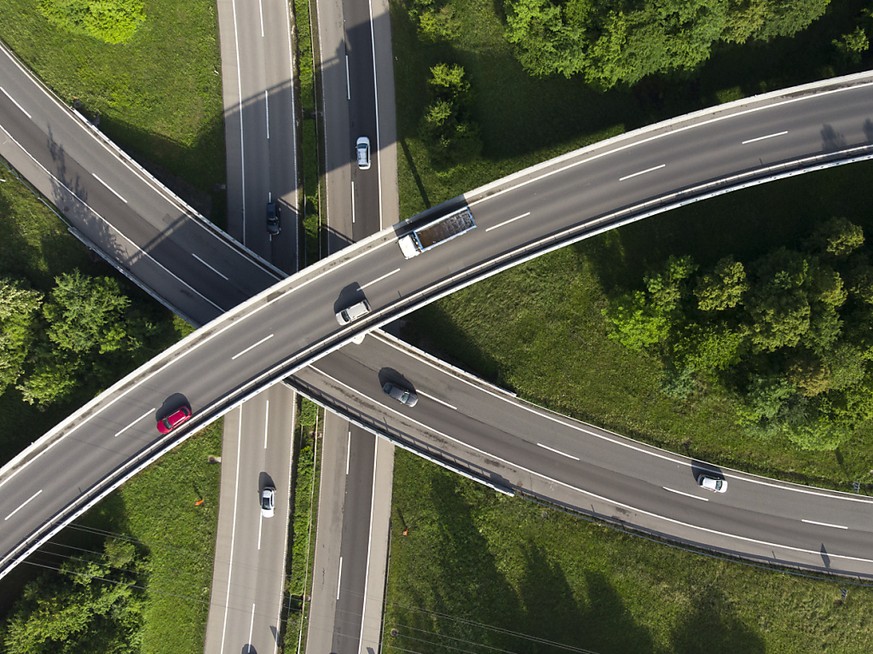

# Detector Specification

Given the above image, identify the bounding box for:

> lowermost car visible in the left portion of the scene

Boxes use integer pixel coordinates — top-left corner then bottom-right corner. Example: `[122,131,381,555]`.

[259,487,276,518]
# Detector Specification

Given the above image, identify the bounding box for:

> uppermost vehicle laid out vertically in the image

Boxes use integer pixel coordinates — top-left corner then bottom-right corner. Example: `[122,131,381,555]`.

[355,136,370,170]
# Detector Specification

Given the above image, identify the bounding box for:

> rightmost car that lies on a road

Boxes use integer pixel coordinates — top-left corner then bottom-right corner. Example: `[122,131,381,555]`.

[697,472,728,492]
